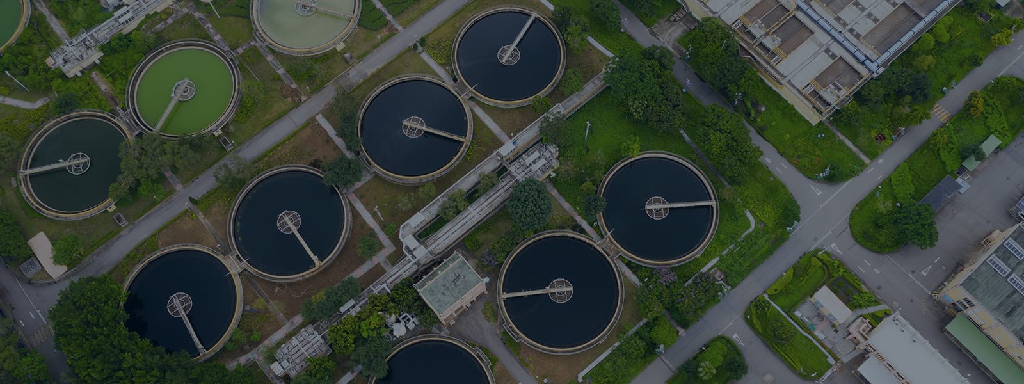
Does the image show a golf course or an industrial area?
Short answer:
industrial area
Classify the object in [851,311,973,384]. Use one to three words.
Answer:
building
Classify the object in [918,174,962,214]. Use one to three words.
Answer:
shed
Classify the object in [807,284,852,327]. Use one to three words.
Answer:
building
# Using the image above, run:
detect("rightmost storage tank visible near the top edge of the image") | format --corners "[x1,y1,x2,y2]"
[451,4,567,109]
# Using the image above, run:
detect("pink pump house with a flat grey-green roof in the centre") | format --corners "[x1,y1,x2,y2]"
[411,248,487,327]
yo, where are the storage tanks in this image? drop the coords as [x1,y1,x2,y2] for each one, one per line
[369,333,496,384]
[354,73,473,184]
[126,38,243,143]
[496,229,625,356]
[227,164,352,283]
[251,0,362,57]
[17,109,136,221]
[595,150,721,269]
[451,4,567,109]
[0,0,33,56]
